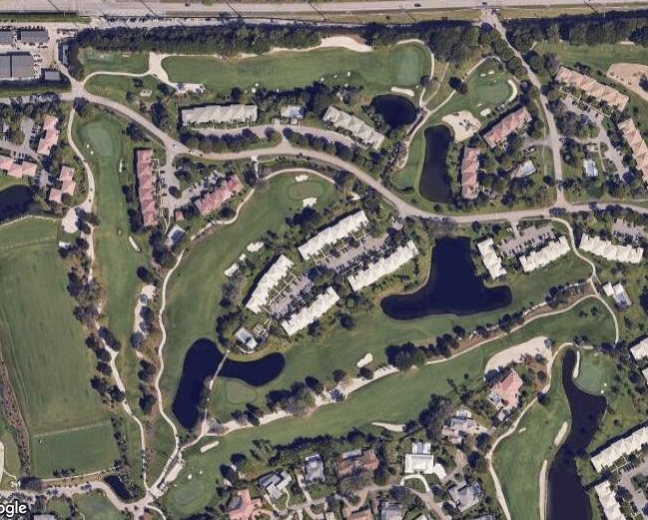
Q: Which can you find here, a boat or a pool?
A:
pool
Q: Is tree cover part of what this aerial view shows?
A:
Yes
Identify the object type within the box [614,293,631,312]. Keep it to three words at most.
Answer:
swimming pool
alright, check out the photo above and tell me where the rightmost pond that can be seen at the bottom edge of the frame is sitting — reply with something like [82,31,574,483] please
[547,349,607,520]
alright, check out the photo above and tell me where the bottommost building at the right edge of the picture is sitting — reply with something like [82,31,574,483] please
[595,482,627,520]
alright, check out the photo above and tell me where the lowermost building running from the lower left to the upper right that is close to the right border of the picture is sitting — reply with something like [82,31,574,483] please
[592,428,648,472]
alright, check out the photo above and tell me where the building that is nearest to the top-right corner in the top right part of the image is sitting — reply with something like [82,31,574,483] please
[557,67,628,113]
